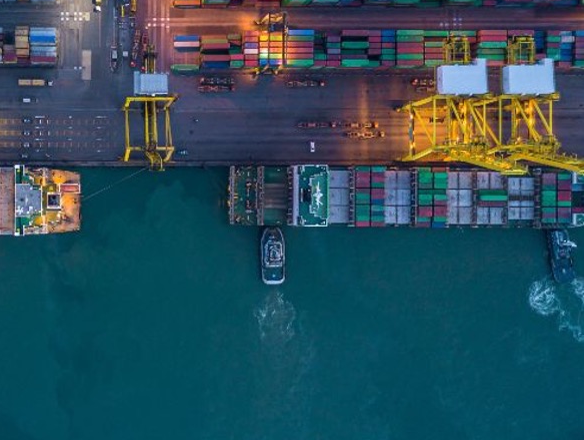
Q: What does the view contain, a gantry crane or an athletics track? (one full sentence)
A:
Looking from above, you can make out a gantry crane.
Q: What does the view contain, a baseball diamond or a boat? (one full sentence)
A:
Of the two, only a boat appears.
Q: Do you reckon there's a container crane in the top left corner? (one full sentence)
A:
Yes, a container crane appears in the top left corner.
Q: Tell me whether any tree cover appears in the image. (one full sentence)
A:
No, there is no tree cover in the image.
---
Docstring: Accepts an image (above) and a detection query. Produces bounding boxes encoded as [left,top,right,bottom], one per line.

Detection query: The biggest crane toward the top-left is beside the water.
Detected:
[116,35,179,167]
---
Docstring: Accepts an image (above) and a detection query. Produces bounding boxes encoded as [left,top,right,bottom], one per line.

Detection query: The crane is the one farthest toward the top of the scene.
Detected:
[252,12,284,76]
